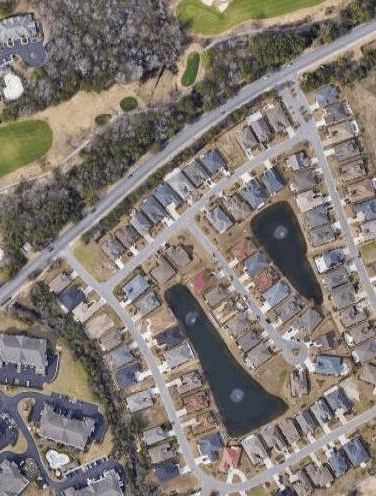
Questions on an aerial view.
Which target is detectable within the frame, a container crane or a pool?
pool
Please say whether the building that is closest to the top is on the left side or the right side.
left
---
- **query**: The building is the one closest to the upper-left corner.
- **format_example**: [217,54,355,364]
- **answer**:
[0,14,38,43]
